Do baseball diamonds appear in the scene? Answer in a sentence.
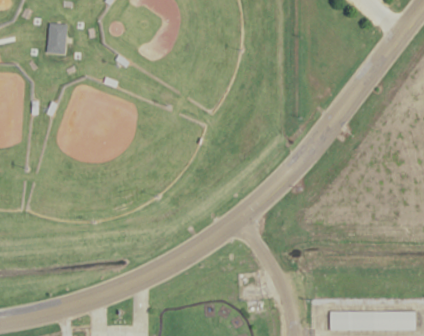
Yes, the picture does show a baseball diamond.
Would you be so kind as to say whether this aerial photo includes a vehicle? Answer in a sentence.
No, the frame has no vehicle in it.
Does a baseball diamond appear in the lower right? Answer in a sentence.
No, there's no baseball diamond to be seen in the lower right.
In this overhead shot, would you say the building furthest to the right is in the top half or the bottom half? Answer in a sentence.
It is in the bottom half that the building furthest to the right appears.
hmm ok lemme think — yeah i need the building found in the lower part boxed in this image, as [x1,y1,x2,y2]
[330,312,416,332]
